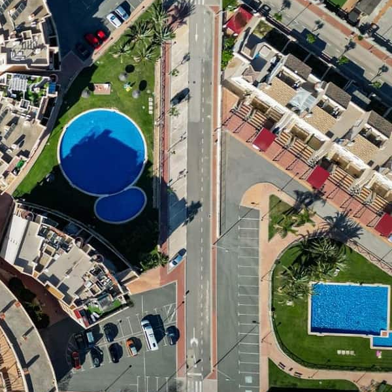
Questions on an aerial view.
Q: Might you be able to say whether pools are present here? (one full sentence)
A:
Yes, you can see a pool in this photo.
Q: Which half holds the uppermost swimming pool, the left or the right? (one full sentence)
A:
It is on the left.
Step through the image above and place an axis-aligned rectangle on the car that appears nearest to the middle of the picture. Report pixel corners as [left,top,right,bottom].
[169,249,185,264]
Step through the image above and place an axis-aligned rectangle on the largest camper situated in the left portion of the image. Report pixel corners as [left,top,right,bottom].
[141,321,159,348]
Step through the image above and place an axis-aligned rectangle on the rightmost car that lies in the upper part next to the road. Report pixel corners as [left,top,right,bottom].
[172,89,188,103]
